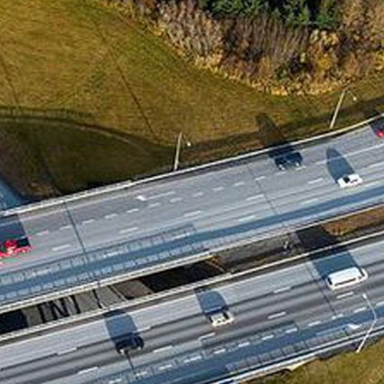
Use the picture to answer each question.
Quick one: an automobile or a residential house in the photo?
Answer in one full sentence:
This aerial view contains an automobile.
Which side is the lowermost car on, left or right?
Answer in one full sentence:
The lowermost car sits on the left side.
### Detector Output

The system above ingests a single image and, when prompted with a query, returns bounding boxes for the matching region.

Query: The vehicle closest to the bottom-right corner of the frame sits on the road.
[327,266,365,288]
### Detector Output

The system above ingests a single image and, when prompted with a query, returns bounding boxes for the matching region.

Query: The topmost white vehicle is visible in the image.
[336,172,362,188]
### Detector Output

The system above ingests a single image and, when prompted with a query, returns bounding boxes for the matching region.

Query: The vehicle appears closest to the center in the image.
[274,152,303,170]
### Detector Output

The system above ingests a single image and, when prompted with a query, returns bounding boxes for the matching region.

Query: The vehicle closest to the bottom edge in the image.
[111,333,145,353]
